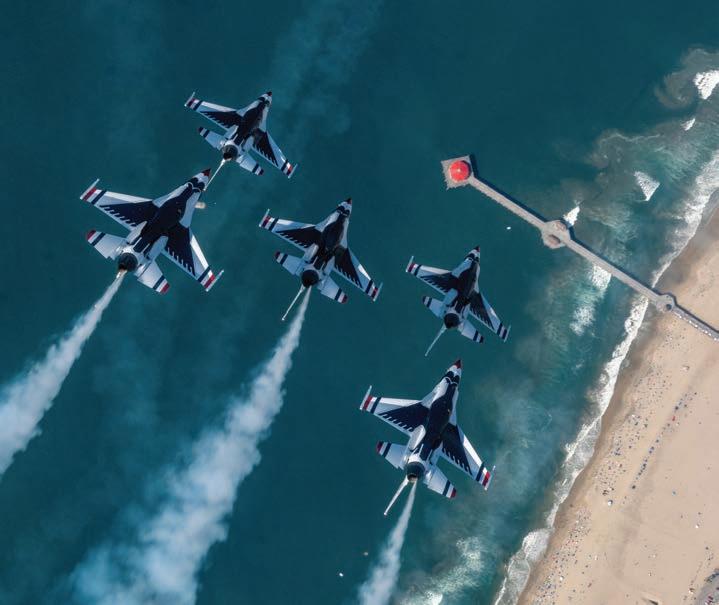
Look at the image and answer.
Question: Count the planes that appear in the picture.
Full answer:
Looking from above, you can make out 5 planes.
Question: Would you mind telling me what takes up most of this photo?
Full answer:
For the most part, this view shows water.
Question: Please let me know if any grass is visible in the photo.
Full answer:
No, there's no grass in this view.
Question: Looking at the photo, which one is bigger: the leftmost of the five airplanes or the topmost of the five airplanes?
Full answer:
The topmost of the five airplanes is smaller than the leftmost of the five airplanes.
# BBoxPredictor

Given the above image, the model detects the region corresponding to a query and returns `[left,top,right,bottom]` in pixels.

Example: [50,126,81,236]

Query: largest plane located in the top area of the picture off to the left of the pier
[80,168,222,307]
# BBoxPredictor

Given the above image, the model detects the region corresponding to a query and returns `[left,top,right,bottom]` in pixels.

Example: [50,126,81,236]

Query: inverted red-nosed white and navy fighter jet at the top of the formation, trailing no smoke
[185,91,297,191]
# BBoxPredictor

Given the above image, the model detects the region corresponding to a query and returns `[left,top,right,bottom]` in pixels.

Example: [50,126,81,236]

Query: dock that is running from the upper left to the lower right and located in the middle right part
[441,156,719,345]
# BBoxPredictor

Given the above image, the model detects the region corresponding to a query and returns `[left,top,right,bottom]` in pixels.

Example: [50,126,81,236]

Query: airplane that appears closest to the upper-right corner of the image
[407,244,510,357]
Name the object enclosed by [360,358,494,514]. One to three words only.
airplane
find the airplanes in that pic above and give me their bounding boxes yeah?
[360,358,494,514]
[407,244,510,357]
[185,91,297,191]
[260,196,381,320]
[80,168,222,307]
